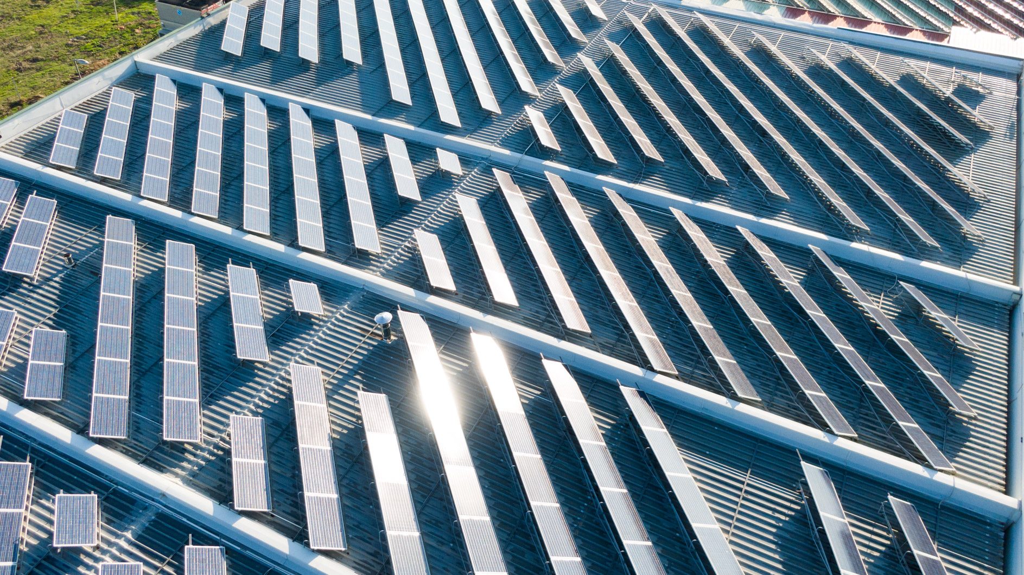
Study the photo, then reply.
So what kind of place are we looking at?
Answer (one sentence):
What you see here is a solar farm.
